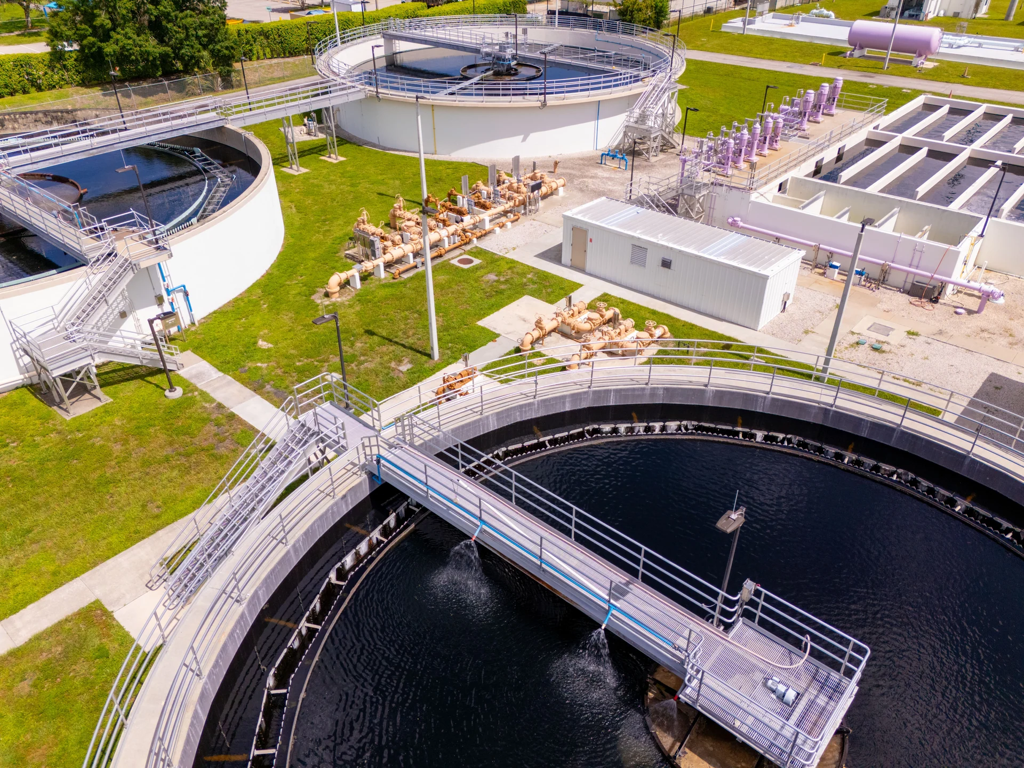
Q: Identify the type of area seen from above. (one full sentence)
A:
This image shows an industrial area.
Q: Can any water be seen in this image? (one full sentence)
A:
Yes, there is water in the image.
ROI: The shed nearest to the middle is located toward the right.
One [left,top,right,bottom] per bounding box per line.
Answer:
[559,197,812,328]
